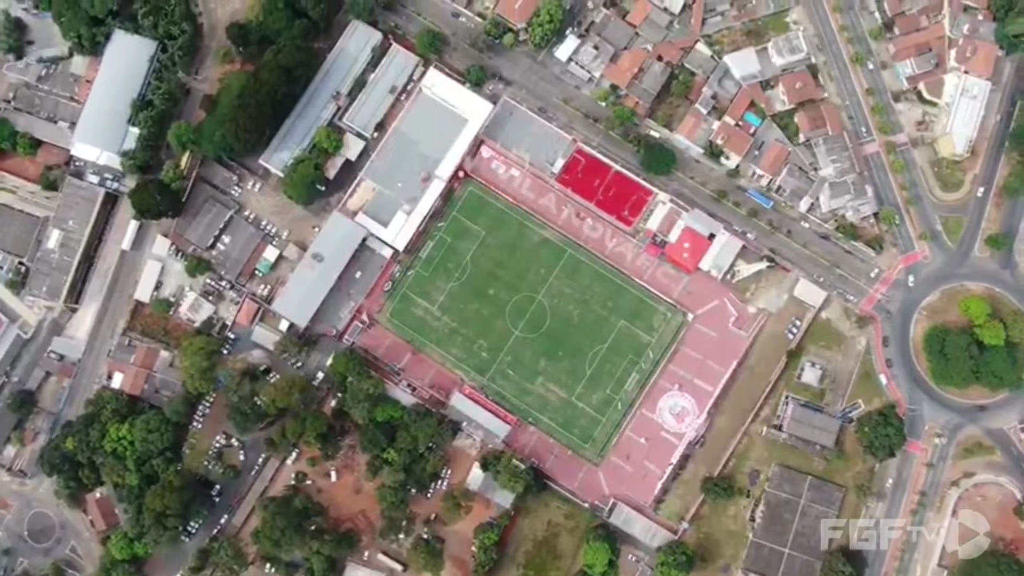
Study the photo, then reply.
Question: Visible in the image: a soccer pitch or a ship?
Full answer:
This aerial view contains a soccer pitch.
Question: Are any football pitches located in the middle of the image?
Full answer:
Yes, looking in the middle of the image, one can make out a football pitch.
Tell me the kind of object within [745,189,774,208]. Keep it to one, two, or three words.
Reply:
vehicle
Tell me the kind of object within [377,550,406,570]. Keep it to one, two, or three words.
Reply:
vehicle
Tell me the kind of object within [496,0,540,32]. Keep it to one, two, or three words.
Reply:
house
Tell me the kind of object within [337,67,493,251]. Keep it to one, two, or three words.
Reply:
building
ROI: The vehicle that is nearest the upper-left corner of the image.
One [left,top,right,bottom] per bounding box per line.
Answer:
[120,220,141,250]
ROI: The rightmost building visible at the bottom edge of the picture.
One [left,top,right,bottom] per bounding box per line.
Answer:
[733,460,845,576]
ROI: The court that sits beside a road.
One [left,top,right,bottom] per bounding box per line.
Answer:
[556,150,653,228]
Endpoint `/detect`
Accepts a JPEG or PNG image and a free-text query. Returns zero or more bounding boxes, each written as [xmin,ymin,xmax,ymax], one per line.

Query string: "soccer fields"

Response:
[377,174,683,462]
